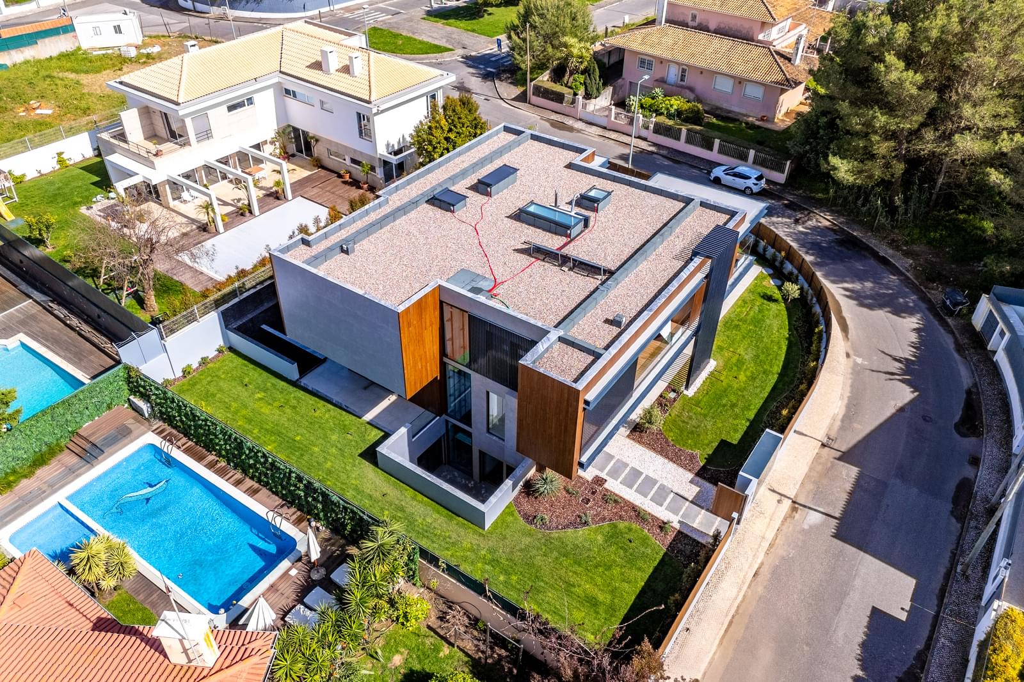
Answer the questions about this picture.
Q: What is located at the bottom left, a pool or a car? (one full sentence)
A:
The feature located at the bottom left is a pool.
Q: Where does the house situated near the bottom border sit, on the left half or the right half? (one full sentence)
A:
The house situated near the bottom border appears in the left half of the scene.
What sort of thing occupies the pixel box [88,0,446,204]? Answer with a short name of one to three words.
house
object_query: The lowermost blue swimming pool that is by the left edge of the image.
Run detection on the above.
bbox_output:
[0,433,317,627]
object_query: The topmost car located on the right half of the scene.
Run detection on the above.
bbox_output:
[707,163,766,194]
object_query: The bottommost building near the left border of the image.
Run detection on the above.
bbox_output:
[0,546,281,682]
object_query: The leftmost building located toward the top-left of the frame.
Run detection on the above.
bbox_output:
[65,5,136,50]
